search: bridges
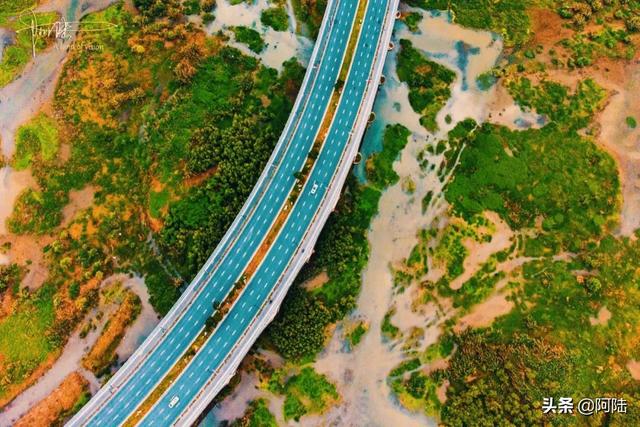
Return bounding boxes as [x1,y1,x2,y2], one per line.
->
[64,0,399,427]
